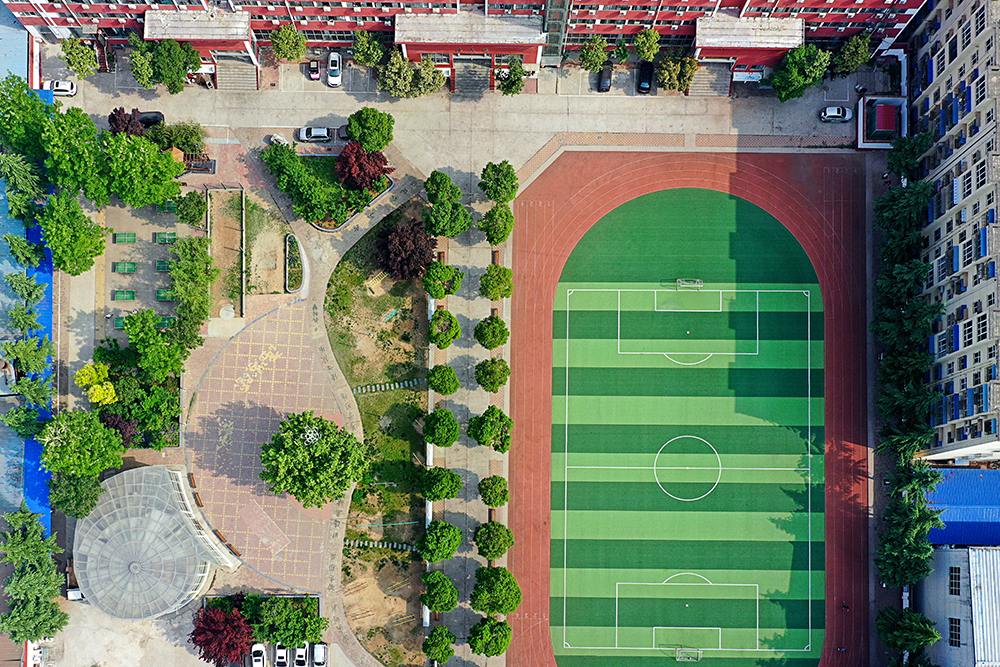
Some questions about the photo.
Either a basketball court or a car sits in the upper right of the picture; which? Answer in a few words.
car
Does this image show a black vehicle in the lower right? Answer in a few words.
No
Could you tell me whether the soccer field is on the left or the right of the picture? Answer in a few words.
right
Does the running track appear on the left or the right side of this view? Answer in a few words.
right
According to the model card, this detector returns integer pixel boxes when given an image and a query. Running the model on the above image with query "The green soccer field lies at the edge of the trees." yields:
[551,188,825,667]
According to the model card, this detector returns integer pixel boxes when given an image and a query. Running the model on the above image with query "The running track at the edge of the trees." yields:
[506,151,868,667]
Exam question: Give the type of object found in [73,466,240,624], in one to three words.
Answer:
building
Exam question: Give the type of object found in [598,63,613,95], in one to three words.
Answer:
car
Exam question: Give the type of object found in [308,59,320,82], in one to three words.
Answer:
vehicle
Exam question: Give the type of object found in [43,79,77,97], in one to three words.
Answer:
car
